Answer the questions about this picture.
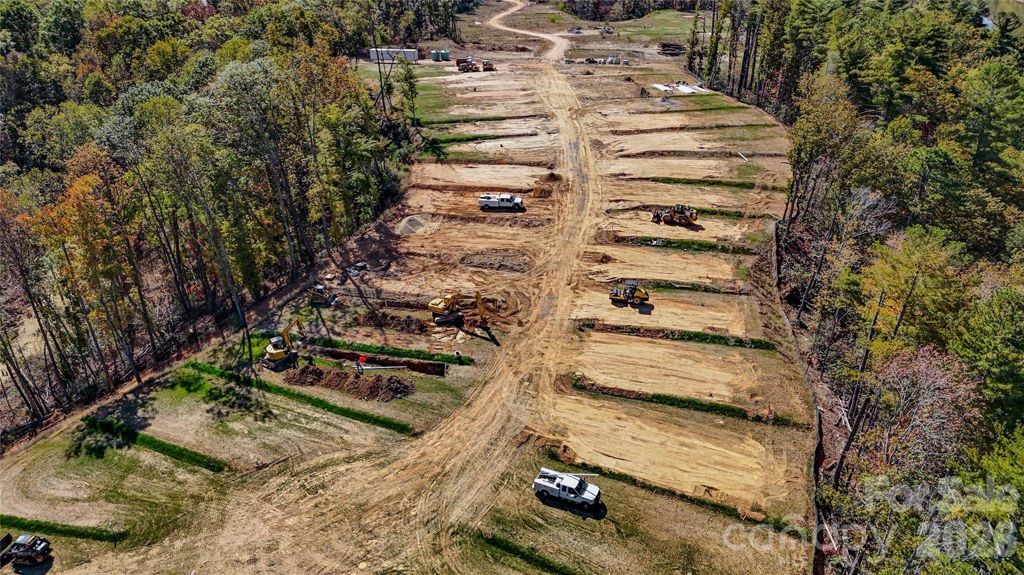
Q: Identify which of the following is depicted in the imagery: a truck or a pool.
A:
truck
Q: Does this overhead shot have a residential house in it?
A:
No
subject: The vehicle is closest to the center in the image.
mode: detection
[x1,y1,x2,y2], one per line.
[427,293,488,329]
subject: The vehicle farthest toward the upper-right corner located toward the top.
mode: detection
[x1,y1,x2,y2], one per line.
[648,195,695,222]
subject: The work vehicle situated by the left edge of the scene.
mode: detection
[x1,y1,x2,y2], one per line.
[1,526,54,570]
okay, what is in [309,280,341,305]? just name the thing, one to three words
work vehicle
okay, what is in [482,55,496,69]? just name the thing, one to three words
work vehicle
